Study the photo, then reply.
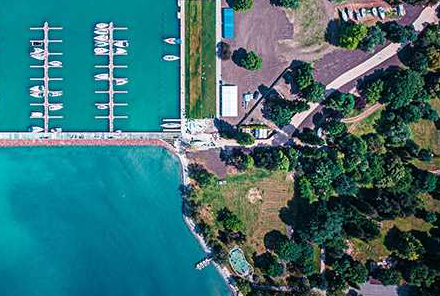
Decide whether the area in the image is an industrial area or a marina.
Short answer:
marina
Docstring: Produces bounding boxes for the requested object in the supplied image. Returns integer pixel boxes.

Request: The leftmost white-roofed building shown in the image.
[220,86,238,116]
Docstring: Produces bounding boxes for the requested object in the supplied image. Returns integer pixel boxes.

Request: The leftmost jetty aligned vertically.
[30,22,63,131]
